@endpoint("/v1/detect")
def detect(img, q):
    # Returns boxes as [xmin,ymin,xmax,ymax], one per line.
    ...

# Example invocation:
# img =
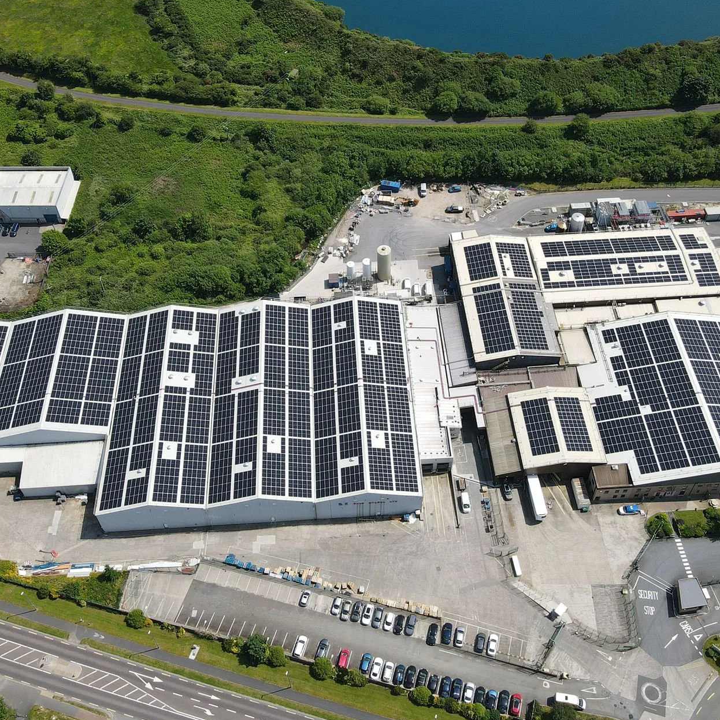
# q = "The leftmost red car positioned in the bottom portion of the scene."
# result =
[336,647,349,667]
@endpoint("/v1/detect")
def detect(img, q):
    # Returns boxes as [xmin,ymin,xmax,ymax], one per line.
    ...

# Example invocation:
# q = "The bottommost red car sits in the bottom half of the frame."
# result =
[511,691,524,718]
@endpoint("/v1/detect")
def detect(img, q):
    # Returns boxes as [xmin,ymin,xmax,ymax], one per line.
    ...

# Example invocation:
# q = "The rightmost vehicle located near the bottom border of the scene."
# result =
[556,690,586,708]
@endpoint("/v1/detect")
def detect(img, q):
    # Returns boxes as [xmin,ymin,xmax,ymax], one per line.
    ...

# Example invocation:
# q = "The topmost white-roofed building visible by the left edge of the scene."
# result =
[0,168,82,227]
